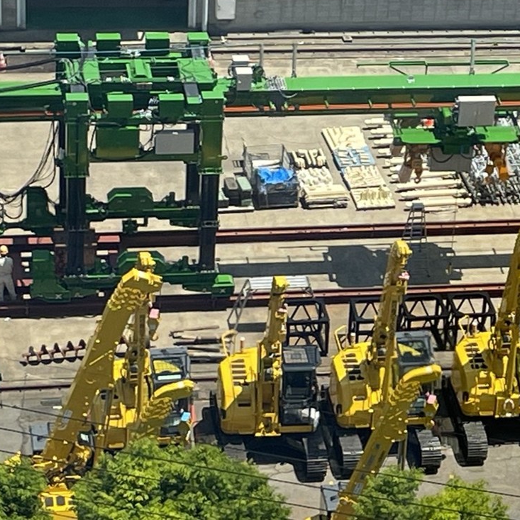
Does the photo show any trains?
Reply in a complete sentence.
No, no train is visible in the scene.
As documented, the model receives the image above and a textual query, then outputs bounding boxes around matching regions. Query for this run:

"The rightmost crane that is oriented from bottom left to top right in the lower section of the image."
[313,364,452,520]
